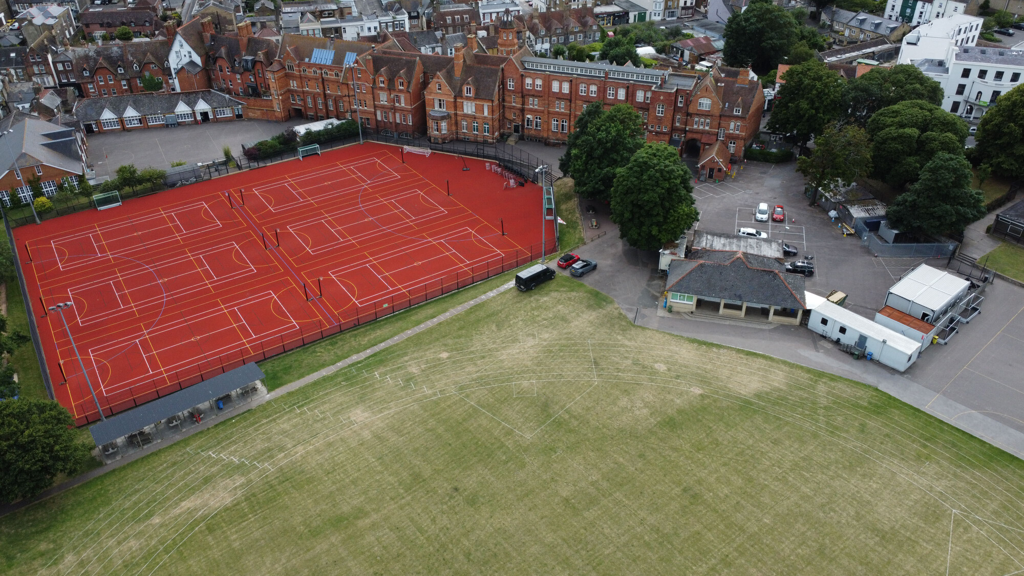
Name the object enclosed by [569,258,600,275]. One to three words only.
car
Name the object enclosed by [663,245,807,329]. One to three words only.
building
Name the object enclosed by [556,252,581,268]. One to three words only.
car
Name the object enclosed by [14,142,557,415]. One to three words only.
sports court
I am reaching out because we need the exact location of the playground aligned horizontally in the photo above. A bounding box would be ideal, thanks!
[85,118,377,192]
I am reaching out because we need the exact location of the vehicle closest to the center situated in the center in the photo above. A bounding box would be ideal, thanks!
[512,261,553,288]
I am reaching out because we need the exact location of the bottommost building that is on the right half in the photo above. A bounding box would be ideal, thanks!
[808,302,924,370]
